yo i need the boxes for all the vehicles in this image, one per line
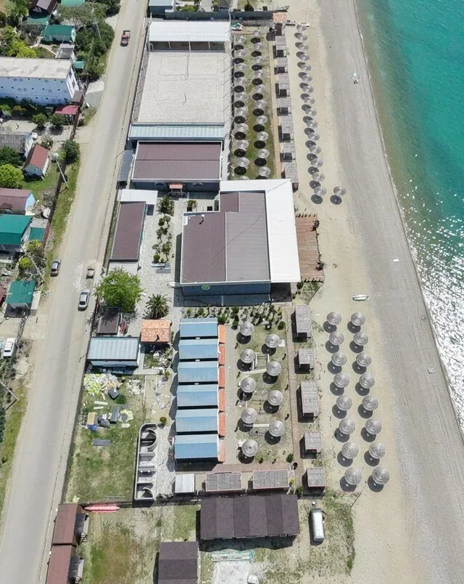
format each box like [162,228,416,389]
[49,259,62,275]
[79,288,90,310]
[121,31,128,46]
[1,338,14,358]
[84,267,95,279]
[311,509,326,542]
